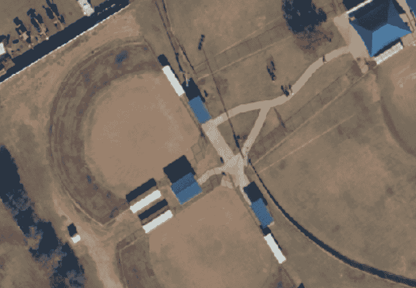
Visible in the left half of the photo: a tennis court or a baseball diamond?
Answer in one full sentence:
Looking in the left half of the photo, you will find a baseball diamond.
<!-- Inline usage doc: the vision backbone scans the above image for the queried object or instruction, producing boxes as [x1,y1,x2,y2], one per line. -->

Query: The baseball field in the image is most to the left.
[49,37,203,224]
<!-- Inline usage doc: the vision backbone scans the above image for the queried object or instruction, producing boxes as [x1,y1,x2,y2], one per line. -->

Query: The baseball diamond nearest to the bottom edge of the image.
[117,191,292,288]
